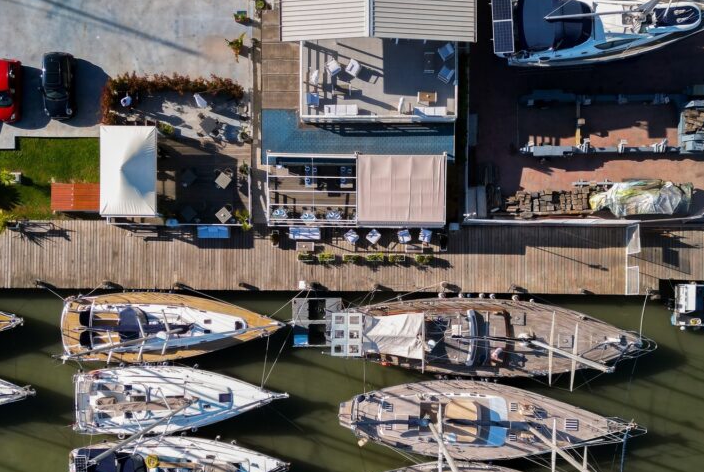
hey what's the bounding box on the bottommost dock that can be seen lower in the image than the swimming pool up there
[292,296,349,347]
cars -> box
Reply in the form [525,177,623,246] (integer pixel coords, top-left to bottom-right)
[0,59,24,124]
[37,51,79,121]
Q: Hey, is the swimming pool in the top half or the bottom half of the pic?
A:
top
